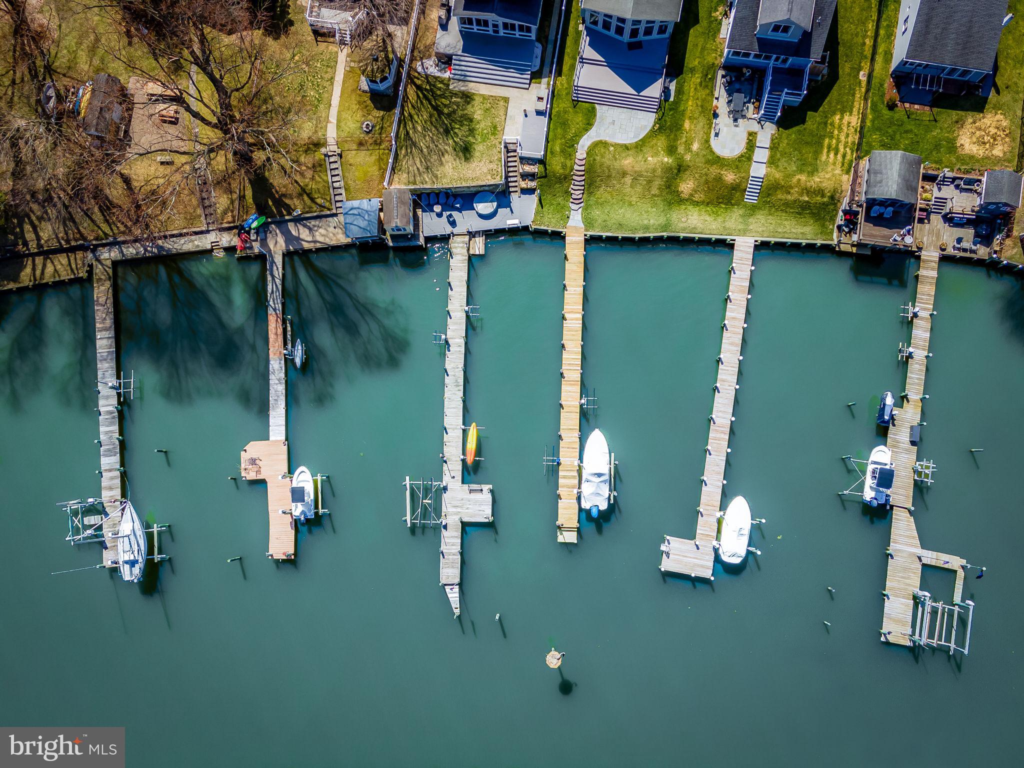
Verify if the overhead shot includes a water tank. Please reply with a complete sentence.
No, there appears to be no water tank in this shot.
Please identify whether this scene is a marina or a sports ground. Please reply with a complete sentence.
The area seen from above is a marina.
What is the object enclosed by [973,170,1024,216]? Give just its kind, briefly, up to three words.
shed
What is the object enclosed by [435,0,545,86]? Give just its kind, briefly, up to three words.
house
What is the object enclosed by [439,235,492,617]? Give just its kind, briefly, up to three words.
pier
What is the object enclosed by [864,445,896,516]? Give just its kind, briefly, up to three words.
boat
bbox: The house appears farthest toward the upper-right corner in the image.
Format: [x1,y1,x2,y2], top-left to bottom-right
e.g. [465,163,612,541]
[892,0,1024,108]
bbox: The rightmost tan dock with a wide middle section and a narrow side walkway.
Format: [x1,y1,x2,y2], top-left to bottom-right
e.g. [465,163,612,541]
[872,252,966,645]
